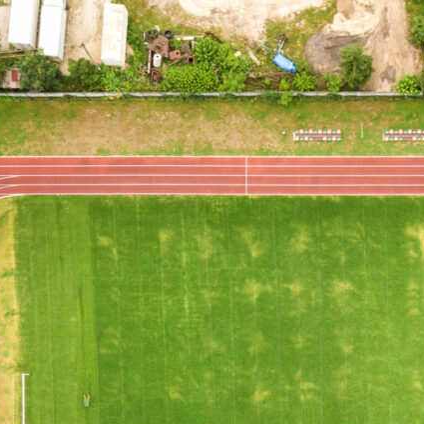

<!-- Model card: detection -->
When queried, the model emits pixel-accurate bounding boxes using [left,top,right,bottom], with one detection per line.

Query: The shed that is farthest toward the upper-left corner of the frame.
[8,0,40,52]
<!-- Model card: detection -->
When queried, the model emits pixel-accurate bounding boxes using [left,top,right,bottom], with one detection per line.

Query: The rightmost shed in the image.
[39,0,69,64]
